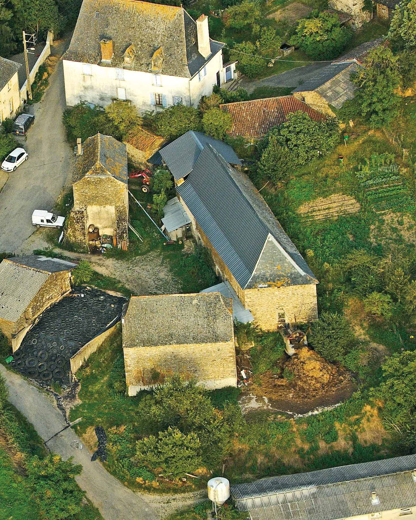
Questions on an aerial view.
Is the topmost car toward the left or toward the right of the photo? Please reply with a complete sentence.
The topmost car sits on the left side.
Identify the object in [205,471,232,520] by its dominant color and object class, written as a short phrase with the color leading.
white silo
